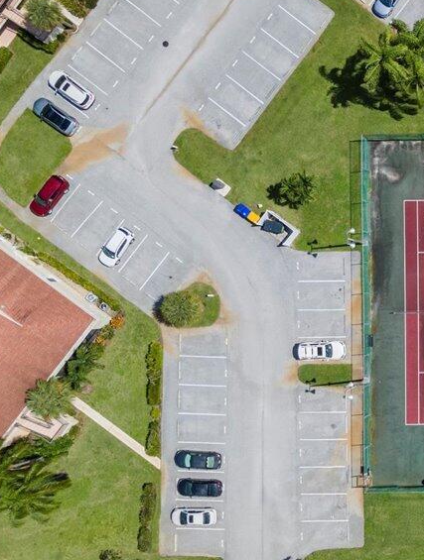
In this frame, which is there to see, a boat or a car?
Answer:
car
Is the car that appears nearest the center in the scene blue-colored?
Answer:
No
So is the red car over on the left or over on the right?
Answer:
left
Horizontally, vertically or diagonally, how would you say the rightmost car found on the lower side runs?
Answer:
horizontally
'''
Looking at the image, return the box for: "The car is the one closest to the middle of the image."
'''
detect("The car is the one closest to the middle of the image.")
[100,227,136,270]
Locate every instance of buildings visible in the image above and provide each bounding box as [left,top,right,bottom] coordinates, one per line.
[0,0,29,57]
[0,235,113,448]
